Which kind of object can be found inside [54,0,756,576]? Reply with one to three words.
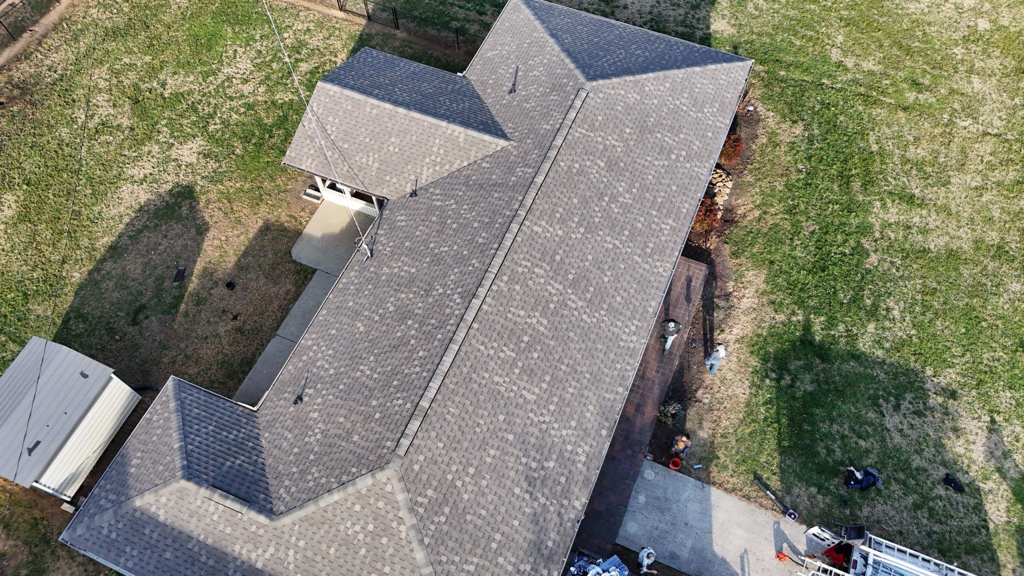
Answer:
house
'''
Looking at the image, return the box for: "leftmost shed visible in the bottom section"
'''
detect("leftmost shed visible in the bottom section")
[0,328,143,503]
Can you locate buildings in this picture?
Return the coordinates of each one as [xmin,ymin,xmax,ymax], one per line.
[0,328,143,503]
[54,0,756,576]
